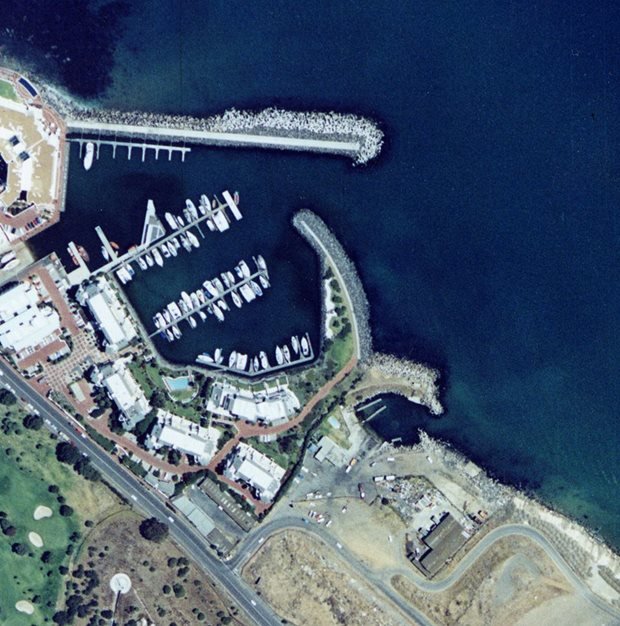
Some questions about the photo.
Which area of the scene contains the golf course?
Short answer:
bottom left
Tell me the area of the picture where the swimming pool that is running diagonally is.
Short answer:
top left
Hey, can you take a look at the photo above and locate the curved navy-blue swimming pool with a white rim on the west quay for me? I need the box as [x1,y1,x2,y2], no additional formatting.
[17,76,38,98]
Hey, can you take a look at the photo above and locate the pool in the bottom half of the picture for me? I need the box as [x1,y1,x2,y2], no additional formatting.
[165,377,189,391]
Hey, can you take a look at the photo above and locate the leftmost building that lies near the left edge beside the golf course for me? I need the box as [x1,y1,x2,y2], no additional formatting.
[0,281,59,356]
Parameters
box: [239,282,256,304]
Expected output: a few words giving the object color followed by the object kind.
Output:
white boat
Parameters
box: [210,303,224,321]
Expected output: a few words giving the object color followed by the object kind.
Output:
white boat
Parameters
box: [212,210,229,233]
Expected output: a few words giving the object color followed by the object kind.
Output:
white vessel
